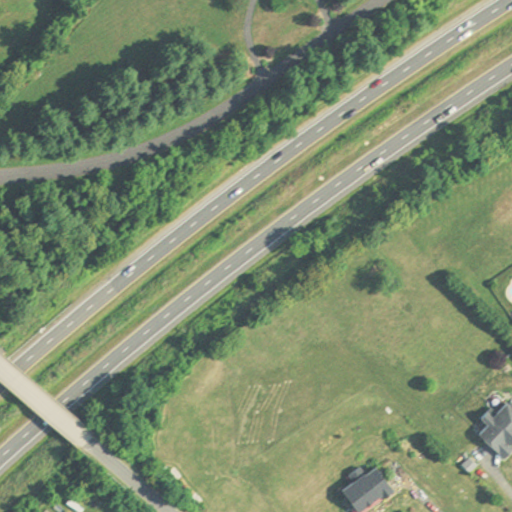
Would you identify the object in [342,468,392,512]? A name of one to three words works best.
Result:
house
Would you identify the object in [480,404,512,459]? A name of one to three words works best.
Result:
house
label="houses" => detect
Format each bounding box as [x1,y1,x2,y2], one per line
[342,468,392,512]
[480,404,512,459]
